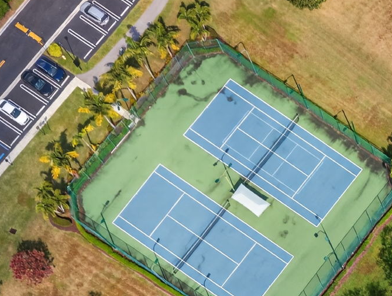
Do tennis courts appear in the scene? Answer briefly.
Yes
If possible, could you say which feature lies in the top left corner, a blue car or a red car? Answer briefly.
blue car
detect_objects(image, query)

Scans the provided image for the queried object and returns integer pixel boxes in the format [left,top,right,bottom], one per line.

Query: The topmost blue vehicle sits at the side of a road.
[34,54,67,80]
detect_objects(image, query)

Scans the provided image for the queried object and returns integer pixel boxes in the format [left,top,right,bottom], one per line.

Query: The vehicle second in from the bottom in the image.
[20,69,54,95]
